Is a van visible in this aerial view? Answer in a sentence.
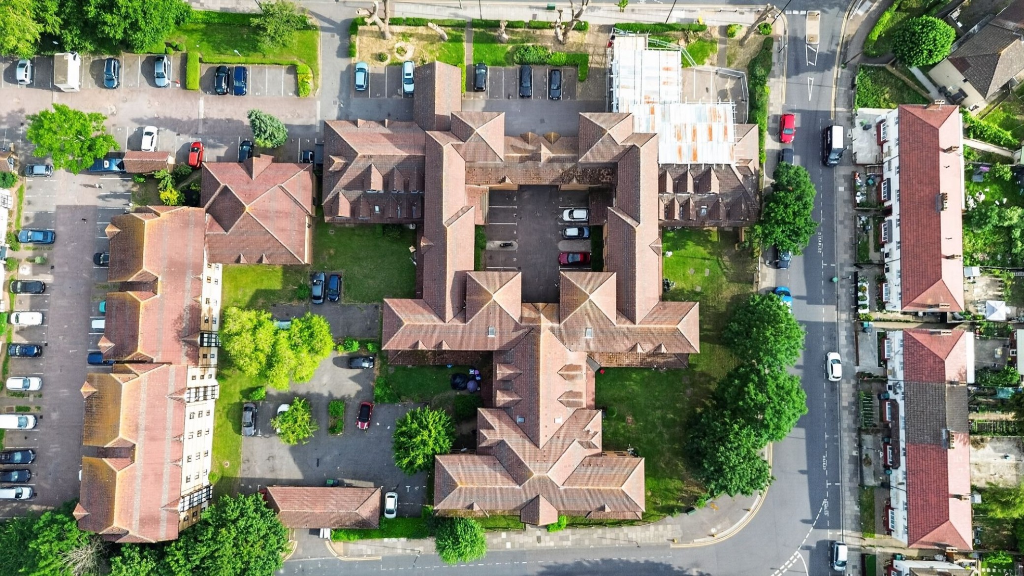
Yes, a van appears in the view.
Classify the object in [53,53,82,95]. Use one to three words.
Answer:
van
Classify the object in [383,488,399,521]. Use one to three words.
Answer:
car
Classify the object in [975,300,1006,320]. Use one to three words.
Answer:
gazebo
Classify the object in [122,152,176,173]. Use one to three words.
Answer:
building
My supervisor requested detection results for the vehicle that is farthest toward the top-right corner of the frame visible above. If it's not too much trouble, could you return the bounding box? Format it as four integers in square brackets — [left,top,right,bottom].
[821,124,845,165]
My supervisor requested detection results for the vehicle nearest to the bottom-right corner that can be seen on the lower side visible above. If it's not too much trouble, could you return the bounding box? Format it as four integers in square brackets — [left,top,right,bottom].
[829,540,846,570]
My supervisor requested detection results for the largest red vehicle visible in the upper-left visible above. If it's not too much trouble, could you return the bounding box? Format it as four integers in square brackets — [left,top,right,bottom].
[188,141,206,170]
